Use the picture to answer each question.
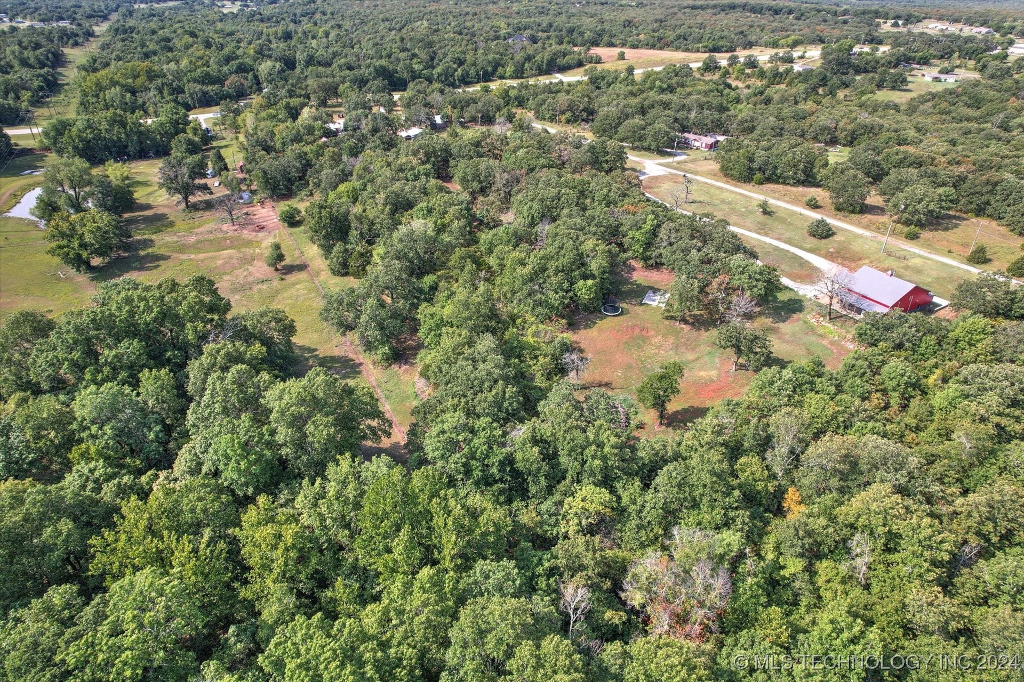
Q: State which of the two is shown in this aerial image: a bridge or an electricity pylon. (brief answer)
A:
electricity pylon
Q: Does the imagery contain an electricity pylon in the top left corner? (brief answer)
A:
Yes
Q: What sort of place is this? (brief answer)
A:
forest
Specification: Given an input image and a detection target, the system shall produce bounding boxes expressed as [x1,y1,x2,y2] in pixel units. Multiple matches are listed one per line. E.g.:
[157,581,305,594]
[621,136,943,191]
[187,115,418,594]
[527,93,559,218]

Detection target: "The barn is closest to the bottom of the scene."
[823,267,931,318]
